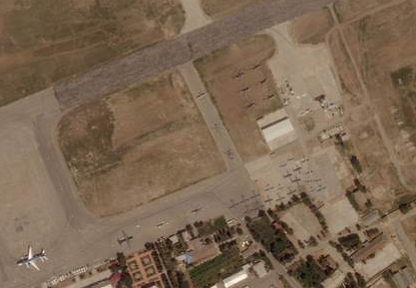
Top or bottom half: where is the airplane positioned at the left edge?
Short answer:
bottom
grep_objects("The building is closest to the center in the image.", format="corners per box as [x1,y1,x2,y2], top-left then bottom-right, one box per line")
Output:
[262,118,294,142]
